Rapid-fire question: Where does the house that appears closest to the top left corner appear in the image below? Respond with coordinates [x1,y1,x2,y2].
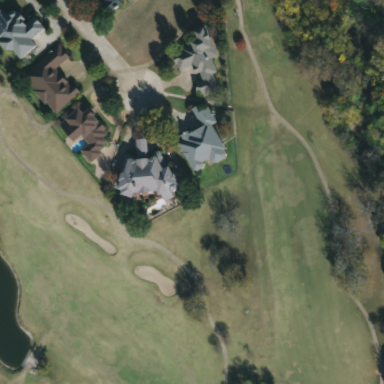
[0,8,45,58]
